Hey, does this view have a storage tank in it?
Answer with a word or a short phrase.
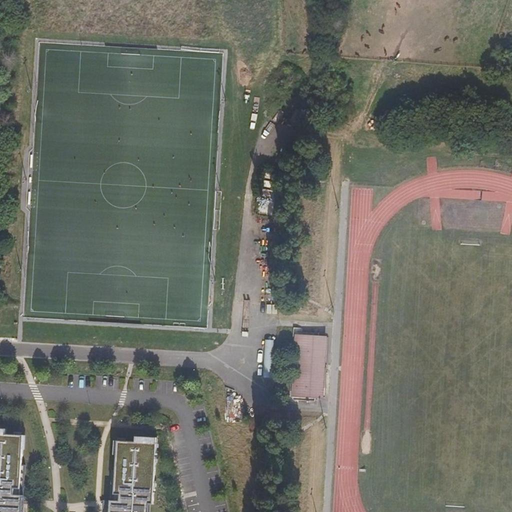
No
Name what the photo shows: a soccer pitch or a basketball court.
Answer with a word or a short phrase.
soccer pitch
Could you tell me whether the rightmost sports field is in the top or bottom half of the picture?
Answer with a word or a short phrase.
bottom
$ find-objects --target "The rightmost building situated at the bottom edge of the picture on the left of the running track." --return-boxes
[104,438,158,512]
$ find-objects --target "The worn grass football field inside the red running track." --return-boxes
[357,188,512,512]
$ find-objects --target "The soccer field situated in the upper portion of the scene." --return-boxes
[24,42,221,328]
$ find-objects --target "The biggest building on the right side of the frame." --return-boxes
[292,328,328,400]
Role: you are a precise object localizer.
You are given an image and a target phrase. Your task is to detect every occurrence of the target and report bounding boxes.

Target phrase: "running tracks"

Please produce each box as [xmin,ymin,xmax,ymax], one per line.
[332,157,512,512]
